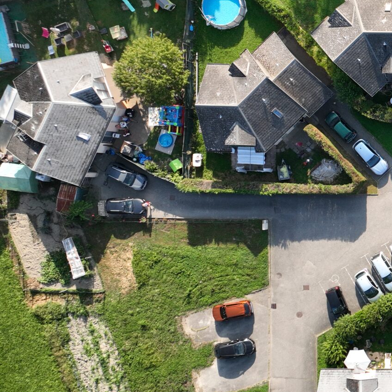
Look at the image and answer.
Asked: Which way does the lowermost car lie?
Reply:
from side to side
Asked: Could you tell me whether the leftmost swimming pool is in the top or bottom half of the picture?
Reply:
top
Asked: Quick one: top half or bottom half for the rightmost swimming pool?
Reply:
top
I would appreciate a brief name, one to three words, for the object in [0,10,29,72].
swimming pool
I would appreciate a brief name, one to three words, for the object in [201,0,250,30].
swimming pool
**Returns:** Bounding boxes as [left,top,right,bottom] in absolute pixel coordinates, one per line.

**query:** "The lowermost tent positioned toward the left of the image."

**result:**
[0,162,49,193]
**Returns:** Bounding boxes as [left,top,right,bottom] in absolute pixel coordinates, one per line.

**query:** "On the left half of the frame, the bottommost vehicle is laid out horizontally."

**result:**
[105,197,148,217]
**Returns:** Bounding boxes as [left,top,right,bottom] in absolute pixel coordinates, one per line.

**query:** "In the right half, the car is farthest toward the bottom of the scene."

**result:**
[214,338,257,360]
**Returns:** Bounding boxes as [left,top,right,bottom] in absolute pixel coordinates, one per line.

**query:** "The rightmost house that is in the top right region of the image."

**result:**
[310,0,392,98]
